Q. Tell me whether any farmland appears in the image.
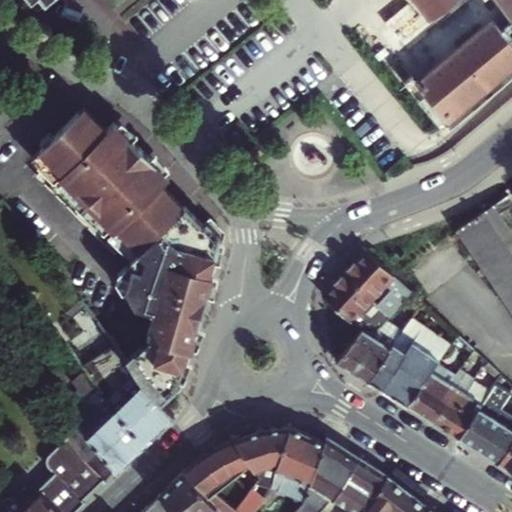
No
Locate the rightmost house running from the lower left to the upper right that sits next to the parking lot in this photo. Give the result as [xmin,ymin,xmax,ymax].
[420,6,512,127]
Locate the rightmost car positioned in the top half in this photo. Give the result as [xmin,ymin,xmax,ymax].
[420,174,446,190]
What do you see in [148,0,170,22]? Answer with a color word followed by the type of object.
gray car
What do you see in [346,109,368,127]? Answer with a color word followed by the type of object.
white car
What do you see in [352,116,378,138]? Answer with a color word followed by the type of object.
gray car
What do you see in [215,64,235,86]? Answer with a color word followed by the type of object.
white car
